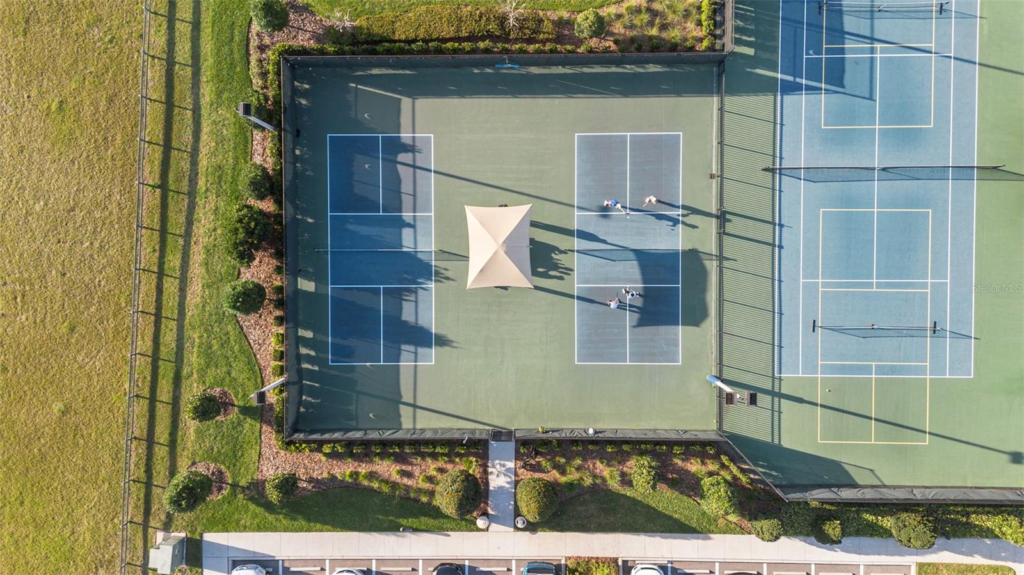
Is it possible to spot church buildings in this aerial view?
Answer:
No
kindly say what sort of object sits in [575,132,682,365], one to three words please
sports court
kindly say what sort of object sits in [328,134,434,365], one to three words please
sports court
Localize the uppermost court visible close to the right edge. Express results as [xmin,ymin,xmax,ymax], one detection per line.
[776,0,980,444]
